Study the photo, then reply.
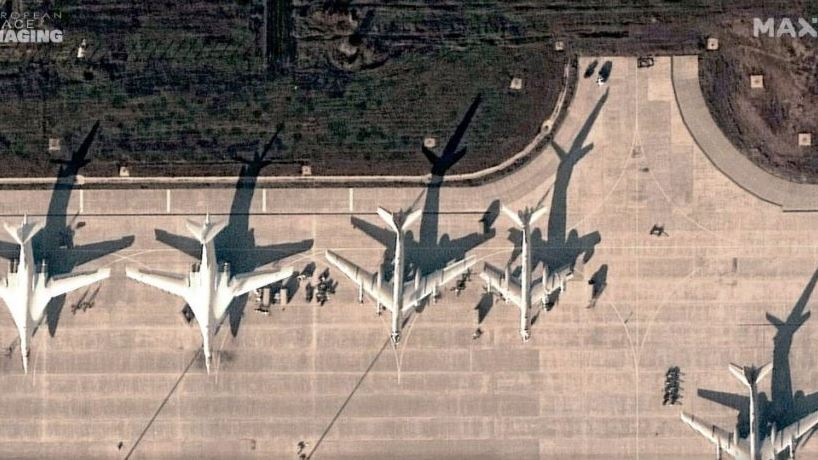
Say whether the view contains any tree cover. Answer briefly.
No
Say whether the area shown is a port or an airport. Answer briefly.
airport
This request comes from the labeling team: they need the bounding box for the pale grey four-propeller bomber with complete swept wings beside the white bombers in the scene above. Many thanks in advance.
[328,201,471,350]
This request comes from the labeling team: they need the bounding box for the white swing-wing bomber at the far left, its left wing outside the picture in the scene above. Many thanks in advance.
[0,214,107,373]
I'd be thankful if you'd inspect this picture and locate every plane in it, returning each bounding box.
[128,213,288,375]
[682,364,818,460]
[328,201,471,350]
[0,214,107,373]
[478,201,571,346]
